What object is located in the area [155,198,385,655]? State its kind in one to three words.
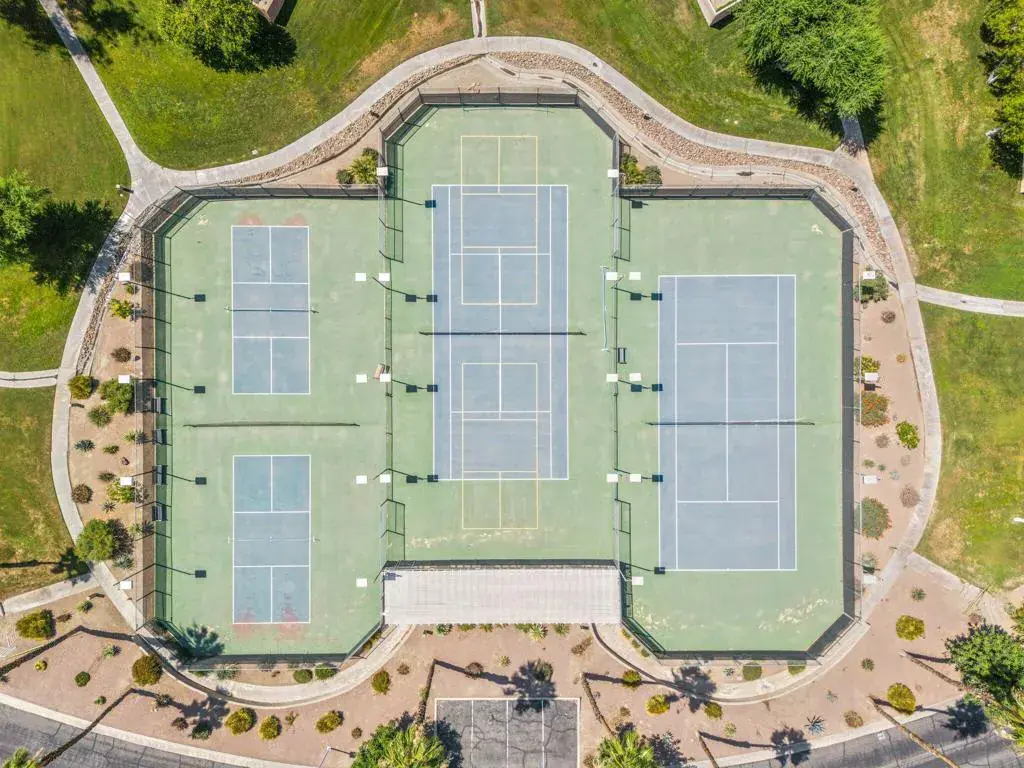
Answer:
sports court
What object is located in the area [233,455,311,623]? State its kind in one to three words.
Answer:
sports court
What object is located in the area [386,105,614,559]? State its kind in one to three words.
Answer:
tennis court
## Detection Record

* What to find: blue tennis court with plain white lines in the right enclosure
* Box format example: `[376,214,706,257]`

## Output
[614,198,844,652]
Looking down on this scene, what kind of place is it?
sports ground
